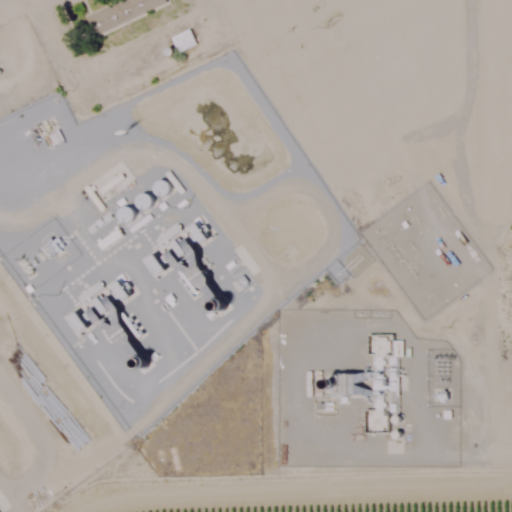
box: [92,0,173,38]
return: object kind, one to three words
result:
barn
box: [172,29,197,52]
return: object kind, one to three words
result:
shed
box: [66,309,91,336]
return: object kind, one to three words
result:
house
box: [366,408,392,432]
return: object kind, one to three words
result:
house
